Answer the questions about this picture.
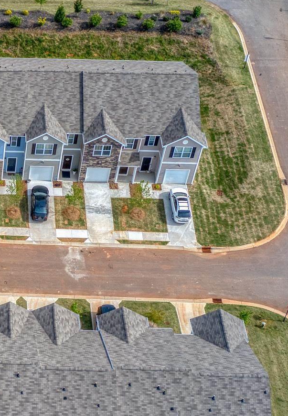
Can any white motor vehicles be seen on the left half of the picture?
No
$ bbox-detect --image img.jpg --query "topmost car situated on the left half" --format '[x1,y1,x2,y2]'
[31,184,51,221]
